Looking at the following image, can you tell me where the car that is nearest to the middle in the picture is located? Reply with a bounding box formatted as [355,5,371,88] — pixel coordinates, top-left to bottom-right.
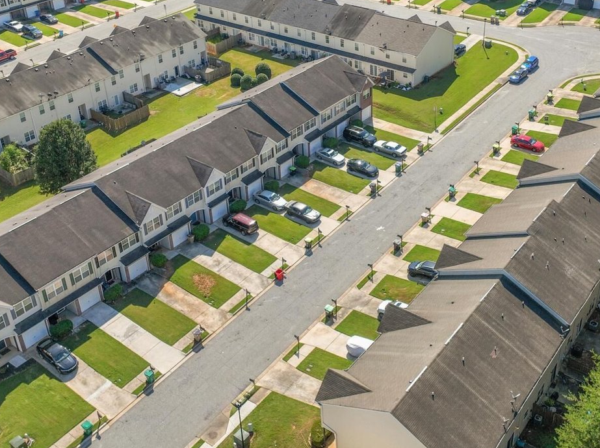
[283,200,324,225]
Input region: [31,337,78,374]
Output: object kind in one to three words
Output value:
car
